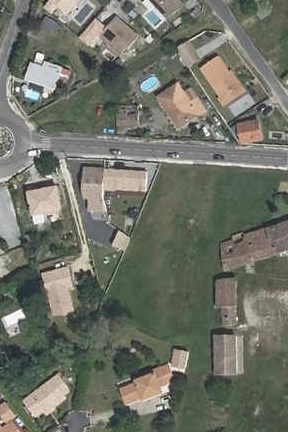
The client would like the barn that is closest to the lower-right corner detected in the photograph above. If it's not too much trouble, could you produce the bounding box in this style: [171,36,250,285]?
[213,335,245,376]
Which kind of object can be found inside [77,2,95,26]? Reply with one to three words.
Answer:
swimming pool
